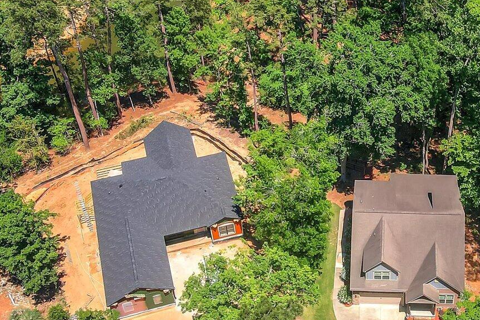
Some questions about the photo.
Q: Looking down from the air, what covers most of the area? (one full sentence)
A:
For the most part, this view shows trees.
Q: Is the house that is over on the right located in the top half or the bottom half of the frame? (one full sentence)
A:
You can find the house that is over on the right in the bottom half.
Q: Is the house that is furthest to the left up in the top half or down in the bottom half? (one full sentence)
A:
It is in the bottom half that the house that is furthest to the left appears.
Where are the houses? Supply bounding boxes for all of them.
[349,159,467,320]
[92,123,244,320]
